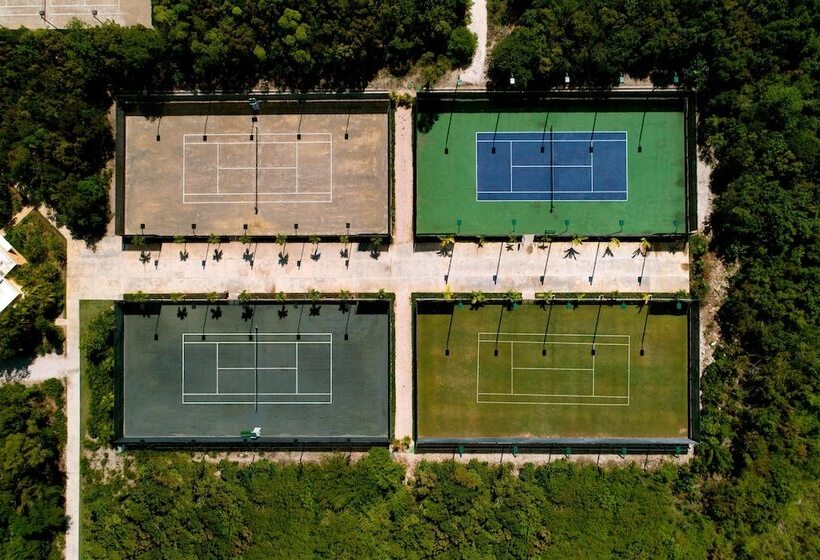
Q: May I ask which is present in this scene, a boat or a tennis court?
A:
tennis court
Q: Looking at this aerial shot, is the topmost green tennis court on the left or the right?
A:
right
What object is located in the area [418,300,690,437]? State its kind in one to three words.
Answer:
tennis court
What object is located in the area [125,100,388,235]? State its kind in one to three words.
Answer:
tennis court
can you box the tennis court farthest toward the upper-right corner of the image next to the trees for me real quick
[416,99,687,234]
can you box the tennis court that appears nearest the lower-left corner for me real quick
[123,301,388,437]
